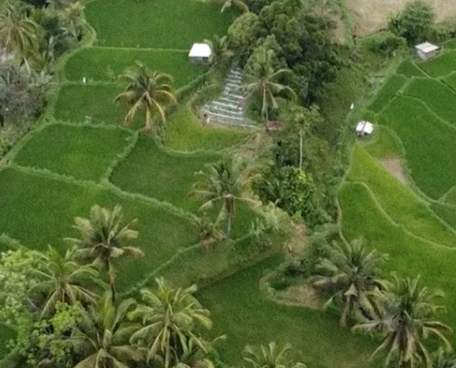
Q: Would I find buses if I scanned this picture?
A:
No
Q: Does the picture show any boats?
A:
No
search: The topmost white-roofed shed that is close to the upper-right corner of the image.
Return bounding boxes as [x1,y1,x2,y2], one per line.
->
[417,43,443,64]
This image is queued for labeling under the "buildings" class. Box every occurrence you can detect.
[417,43,443,64]
[357,123,376,140]
[190,49,212,71]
